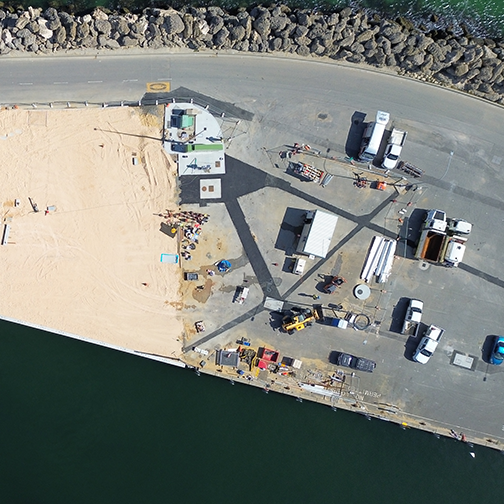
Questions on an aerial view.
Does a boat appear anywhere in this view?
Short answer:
No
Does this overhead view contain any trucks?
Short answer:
Yes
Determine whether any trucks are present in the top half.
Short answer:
Yes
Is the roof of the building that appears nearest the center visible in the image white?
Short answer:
Yes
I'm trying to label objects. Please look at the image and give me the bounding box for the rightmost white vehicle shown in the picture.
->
[442,218,471,266]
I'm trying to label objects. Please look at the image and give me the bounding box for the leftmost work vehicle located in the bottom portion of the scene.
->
[281,302,325,333]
